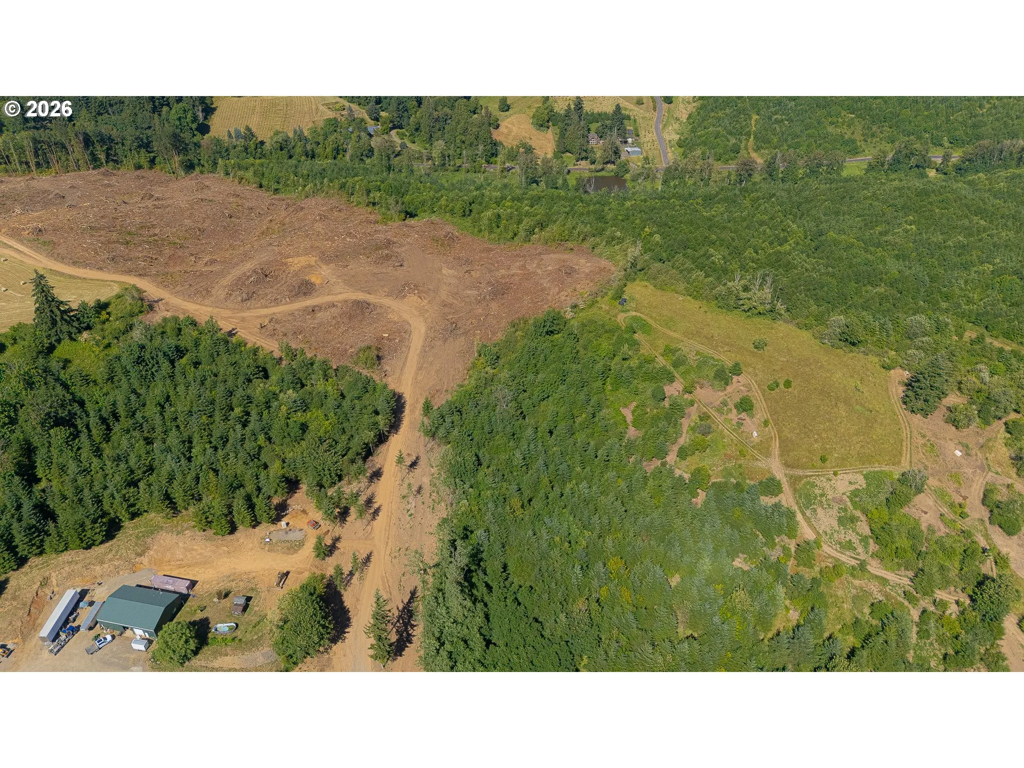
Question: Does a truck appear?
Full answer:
Yes, I can see a truck in this picture.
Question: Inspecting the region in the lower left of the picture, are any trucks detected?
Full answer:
Yes, there is a truck in the lower left of the picture.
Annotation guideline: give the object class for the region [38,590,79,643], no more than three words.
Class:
trailer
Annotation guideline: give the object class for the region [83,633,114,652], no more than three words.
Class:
vehicle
